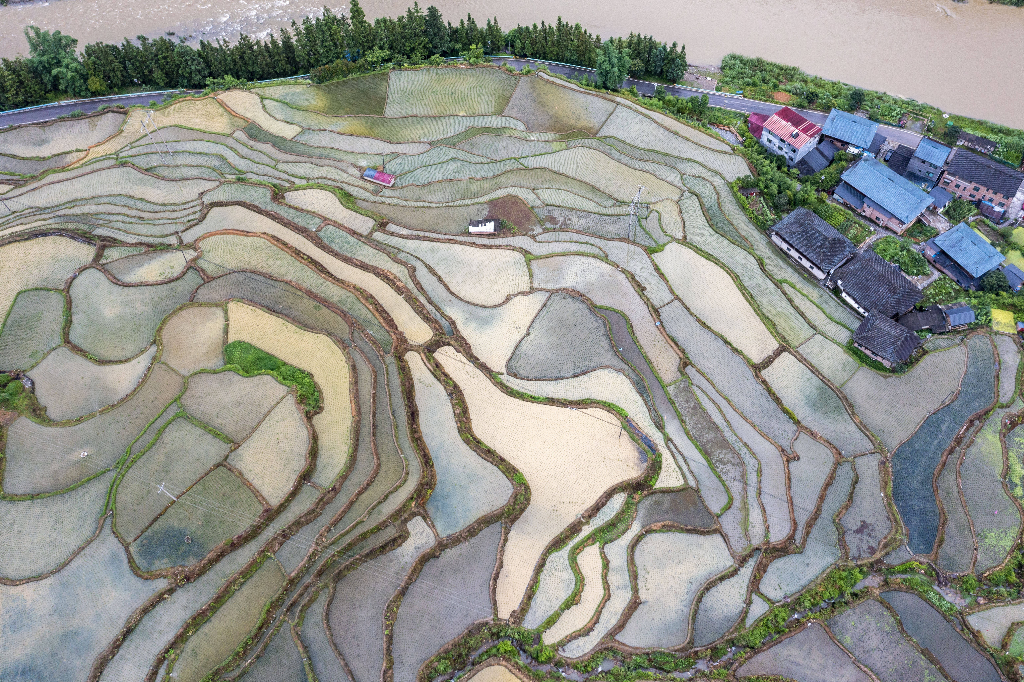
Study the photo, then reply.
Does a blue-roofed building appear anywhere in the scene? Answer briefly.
Yes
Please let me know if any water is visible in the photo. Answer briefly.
Yes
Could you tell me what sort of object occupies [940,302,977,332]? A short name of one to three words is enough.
shed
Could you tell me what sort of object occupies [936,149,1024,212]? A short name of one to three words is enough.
house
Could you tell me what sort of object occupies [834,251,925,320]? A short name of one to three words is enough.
house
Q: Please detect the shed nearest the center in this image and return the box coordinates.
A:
[469,218,500,238]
